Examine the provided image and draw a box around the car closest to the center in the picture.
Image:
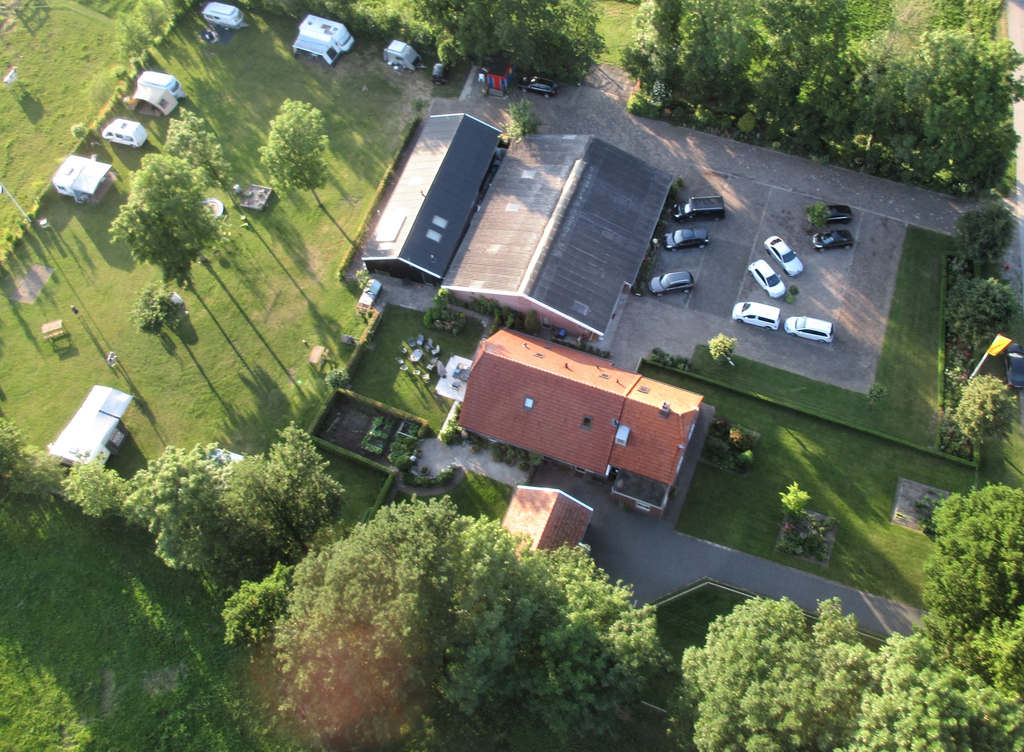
[648,272,695,297]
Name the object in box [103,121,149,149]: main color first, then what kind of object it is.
white van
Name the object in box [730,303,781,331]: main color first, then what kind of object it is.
white vehicle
